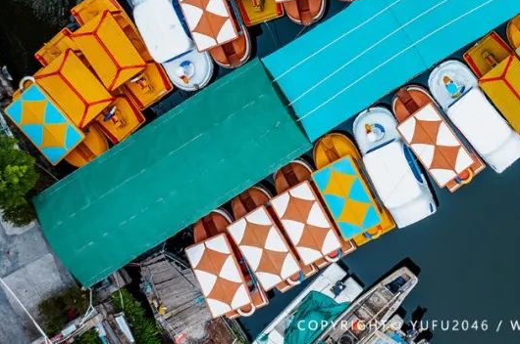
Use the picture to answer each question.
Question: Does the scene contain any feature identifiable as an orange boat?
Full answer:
Yes, an orange boat can be made out from above.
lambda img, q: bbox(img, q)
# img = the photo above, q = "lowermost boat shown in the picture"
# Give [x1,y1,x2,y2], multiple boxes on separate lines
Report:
[363,311,409,344]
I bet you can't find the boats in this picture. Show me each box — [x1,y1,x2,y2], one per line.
[355,105,435,227]
[238,0,284,43]
[363,311,409,344]
[393,85,487,192]
[464,33,520,131]
[172,0,244,71]
[187,208,271,322]
[272,0,324,27]
[1,62,112,165]
[65,0,174,117]
[322,269,417,344]
[431,57,520,171]
[312,131,396,245]
[231,185,320,295]
[246,263,366,344]
[32,27,148,143]
[131,0,213,99]
[273,159,361,274]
